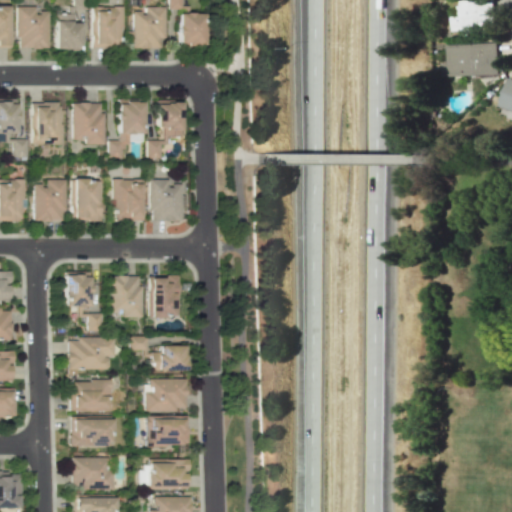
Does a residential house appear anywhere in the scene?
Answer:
Yes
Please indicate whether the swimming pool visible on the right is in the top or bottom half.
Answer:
top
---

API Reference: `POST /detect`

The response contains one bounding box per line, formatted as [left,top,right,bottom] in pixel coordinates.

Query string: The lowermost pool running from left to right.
[157,319,184,332]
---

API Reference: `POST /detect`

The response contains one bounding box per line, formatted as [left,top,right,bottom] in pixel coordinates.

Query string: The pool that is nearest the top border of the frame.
[450,92,472,112]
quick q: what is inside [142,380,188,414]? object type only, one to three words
house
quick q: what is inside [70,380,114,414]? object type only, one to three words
house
